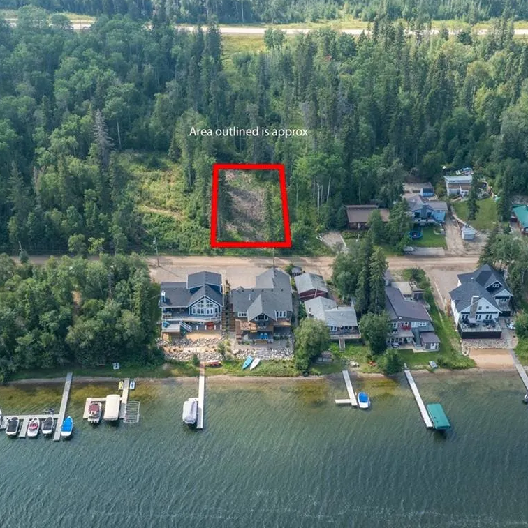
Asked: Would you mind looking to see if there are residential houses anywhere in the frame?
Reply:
Yes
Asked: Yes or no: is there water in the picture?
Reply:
Yes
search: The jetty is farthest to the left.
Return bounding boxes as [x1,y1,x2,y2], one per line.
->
[0,372,74,443]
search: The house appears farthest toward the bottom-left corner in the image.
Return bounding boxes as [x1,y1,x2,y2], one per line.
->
[160,267,225,348]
